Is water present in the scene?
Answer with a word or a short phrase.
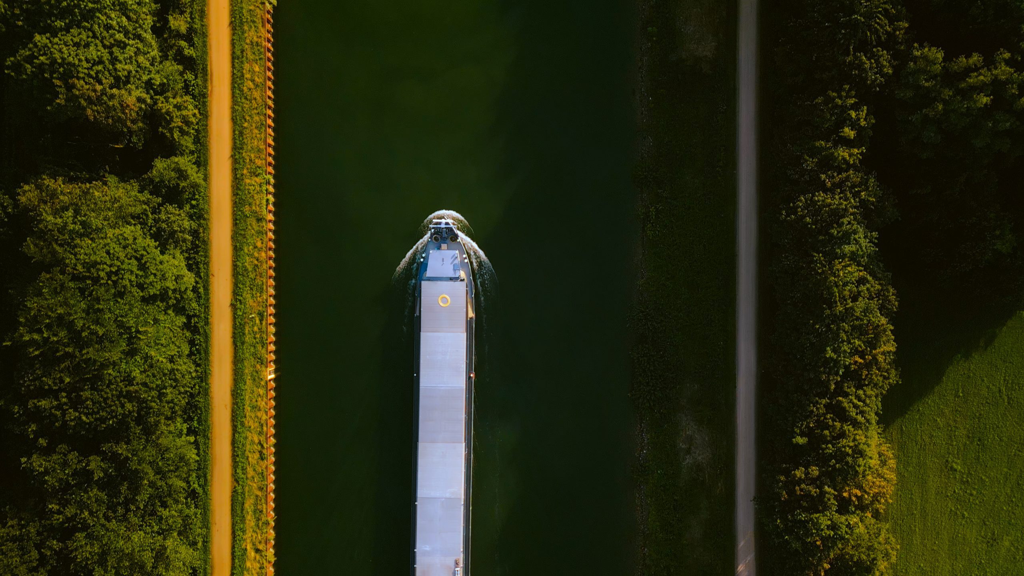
Yes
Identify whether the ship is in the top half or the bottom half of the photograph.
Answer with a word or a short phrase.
bottom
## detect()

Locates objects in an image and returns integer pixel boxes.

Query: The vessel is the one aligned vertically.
[410,216,475,576]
